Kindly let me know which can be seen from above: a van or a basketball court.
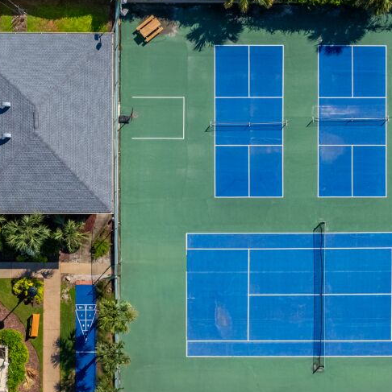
basketball court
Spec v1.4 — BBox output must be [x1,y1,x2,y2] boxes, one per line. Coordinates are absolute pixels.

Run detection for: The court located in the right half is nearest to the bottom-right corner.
[186,232,392,357]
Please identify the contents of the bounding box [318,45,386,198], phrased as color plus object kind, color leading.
blue sports court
